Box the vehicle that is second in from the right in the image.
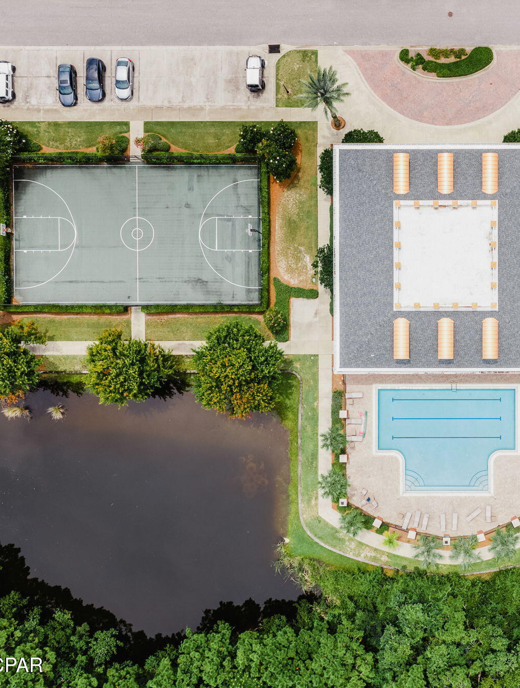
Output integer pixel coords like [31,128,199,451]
[113,58,136,103]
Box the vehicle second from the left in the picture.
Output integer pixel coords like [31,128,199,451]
[57,64,80,109]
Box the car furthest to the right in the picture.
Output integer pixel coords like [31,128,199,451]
[245,57,266,92]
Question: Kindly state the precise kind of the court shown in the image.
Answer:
basketball court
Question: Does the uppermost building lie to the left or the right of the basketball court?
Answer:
on the right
